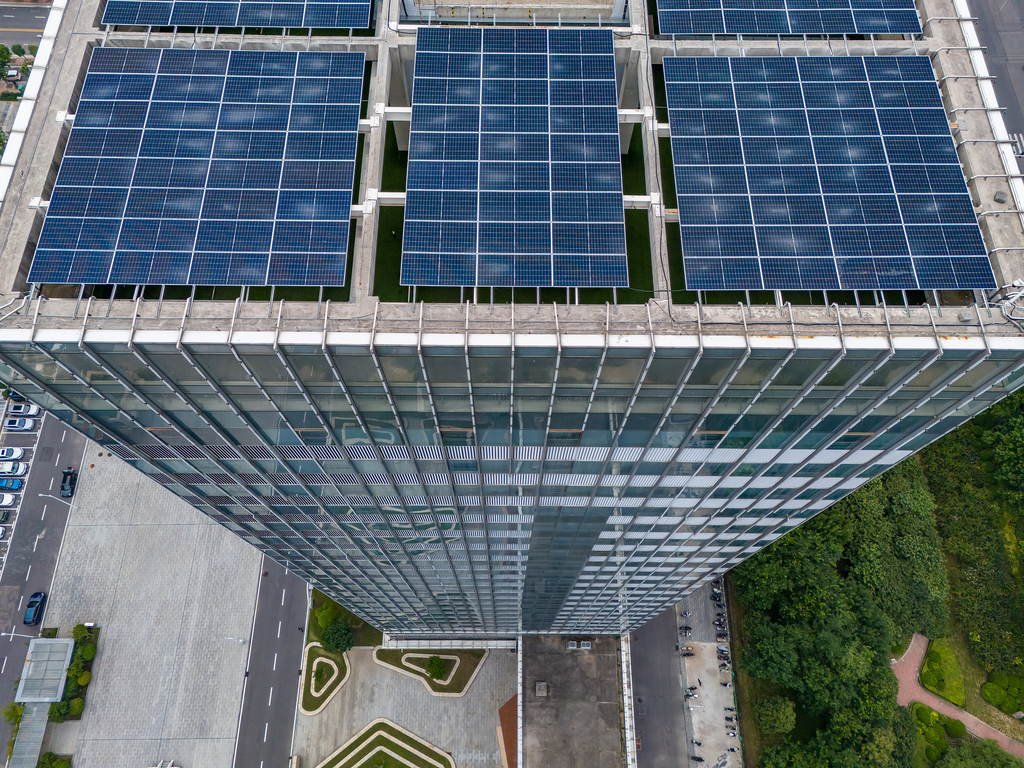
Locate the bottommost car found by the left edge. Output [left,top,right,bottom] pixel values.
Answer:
[23,593,47,627]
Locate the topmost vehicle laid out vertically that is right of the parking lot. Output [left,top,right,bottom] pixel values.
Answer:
[59,463,79,499]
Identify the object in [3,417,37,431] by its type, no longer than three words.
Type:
car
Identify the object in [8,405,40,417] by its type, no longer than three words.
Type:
vehicle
